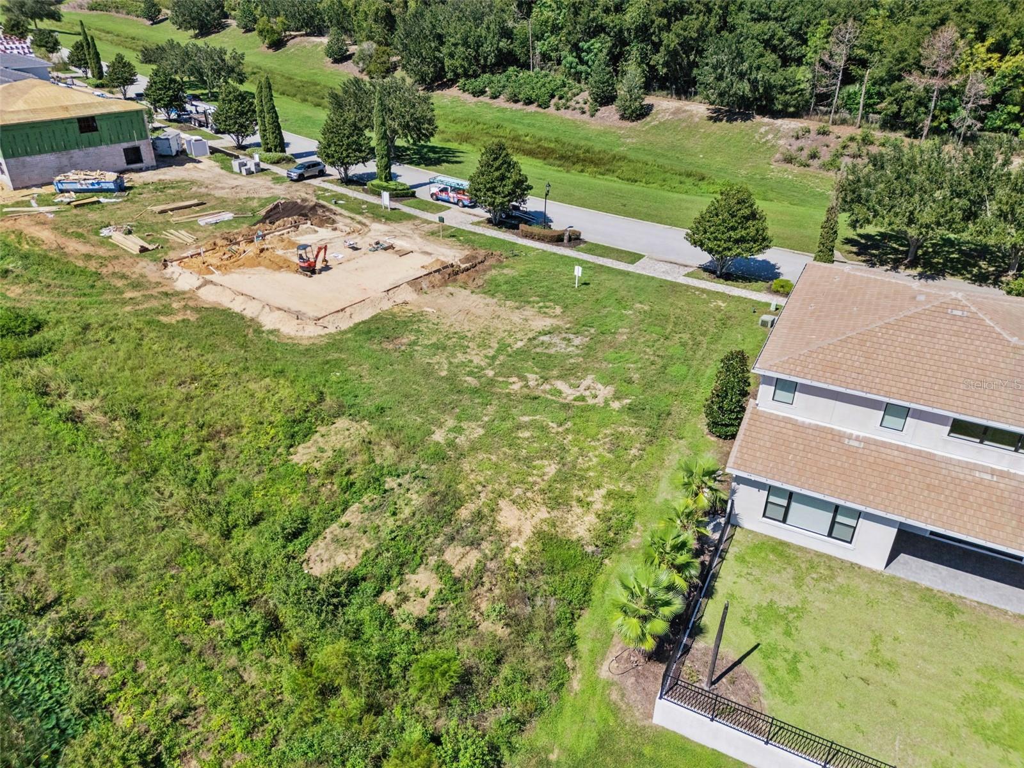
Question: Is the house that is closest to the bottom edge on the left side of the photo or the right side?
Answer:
right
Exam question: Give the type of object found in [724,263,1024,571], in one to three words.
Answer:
house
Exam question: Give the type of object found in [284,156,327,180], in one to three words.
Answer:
car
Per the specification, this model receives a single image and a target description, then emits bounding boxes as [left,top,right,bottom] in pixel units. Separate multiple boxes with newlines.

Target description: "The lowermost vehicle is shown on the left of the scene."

[294,236,333,276]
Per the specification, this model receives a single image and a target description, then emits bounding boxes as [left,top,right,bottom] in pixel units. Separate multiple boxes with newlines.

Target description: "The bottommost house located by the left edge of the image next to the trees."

[0,78,155,189]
